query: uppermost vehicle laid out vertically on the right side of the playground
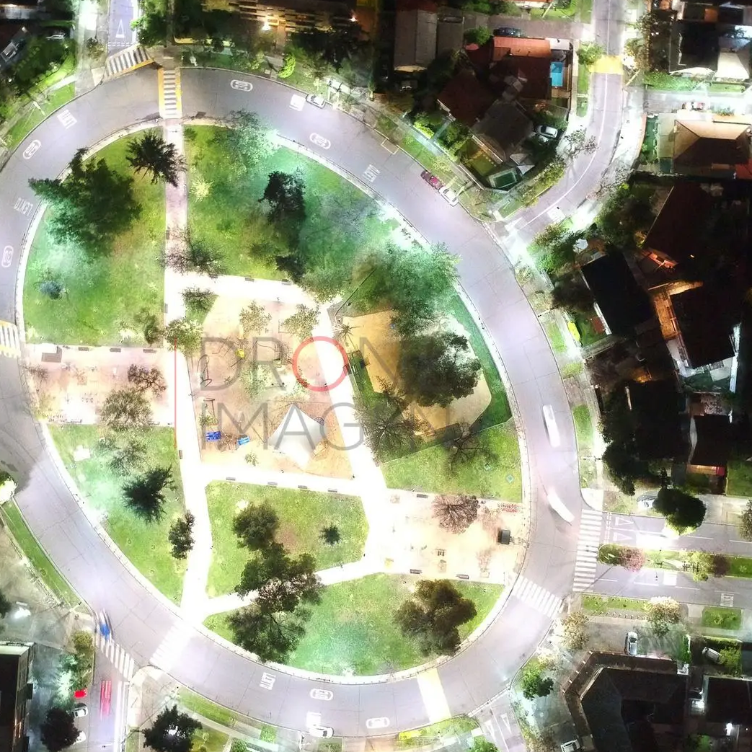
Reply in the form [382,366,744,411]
[544,411,561,445]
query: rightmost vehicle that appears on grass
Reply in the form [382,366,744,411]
[700,645,723,662]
